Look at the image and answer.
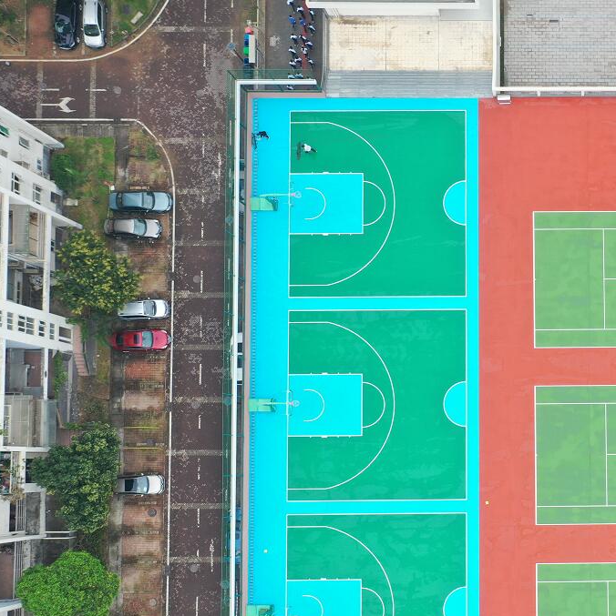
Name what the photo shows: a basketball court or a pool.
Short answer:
basketball court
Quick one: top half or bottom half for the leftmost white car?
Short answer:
top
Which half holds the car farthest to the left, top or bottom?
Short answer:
top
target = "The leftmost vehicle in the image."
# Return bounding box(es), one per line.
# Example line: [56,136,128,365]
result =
[50,0,82,45]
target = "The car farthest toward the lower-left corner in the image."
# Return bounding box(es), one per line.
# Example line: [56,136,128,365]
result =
[109,473,167,499]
